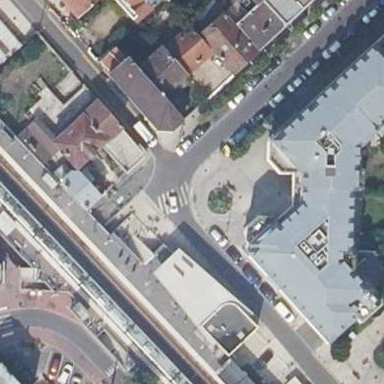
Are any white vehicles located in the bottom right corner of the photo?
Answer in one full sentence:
Yes, a white vehicle is visible in the bottom right corner of the photo.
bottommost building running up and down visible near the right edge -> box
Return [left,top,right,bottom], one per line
[246,32,384,346]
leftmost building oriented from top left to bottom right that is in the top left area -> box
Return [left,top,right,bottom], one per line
[0,0,31,35]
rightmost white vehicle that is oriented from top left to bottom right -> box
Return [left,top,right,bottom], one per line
[275,300,295,320]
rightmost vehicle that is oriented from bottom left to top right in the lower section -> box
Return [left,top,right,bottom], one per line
[256,345,276,365]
